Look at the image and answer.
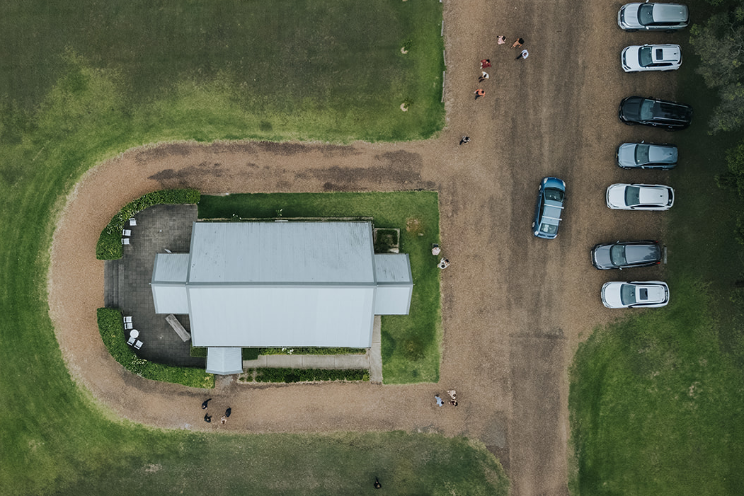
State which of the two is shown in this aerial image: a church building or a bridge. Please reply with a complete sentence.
This aerial view contains a church building.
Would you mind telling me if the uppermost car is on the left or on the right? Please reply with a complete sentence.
It is on the right.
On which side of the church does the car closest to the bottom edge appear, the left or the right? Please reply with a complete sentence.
It is on the right side of the church that the car closest to the bottom edge is positioned.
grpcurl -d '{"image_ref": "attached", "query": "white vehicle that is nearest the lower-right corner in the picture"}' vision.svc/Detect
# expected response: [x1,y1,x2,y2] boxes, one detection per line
[599,277,669,312]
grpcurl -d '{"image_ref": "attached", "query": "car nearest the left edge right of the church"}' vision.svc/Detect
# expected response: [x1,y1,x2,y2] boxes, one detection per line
[531,180,568,239]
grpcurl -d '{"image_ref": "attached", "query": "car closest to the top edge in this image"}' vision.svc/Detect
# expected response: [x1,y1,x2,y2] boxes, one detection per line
[616,0,689,36]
